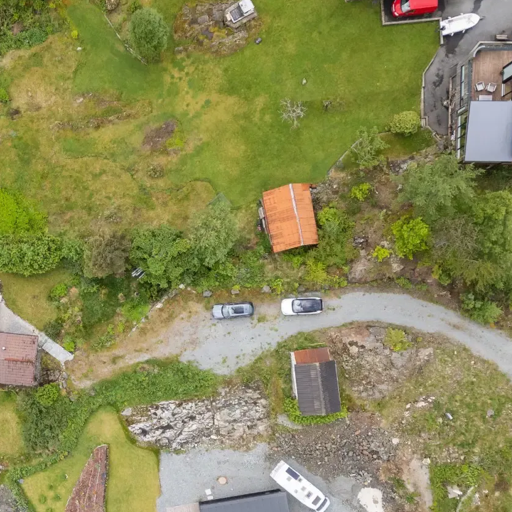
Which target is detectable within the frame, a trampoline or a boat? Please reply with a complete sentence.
It is a boat that can be seen here.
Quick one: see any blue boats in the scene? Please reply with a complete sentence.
No, this view has no blue boat in it.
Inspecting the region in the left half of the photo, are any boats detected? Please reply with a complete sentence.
No, no boat can be made out in the left half of the photo.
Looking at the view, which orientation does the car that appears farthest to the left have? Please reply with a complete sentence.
Seen from above, the car that appears farthest to the left lies from left to right.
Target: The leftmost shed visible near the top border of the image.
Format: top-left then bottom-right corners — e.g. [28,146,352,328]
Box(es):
[223,0,257,30]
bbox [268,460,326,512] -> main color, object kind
white camper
